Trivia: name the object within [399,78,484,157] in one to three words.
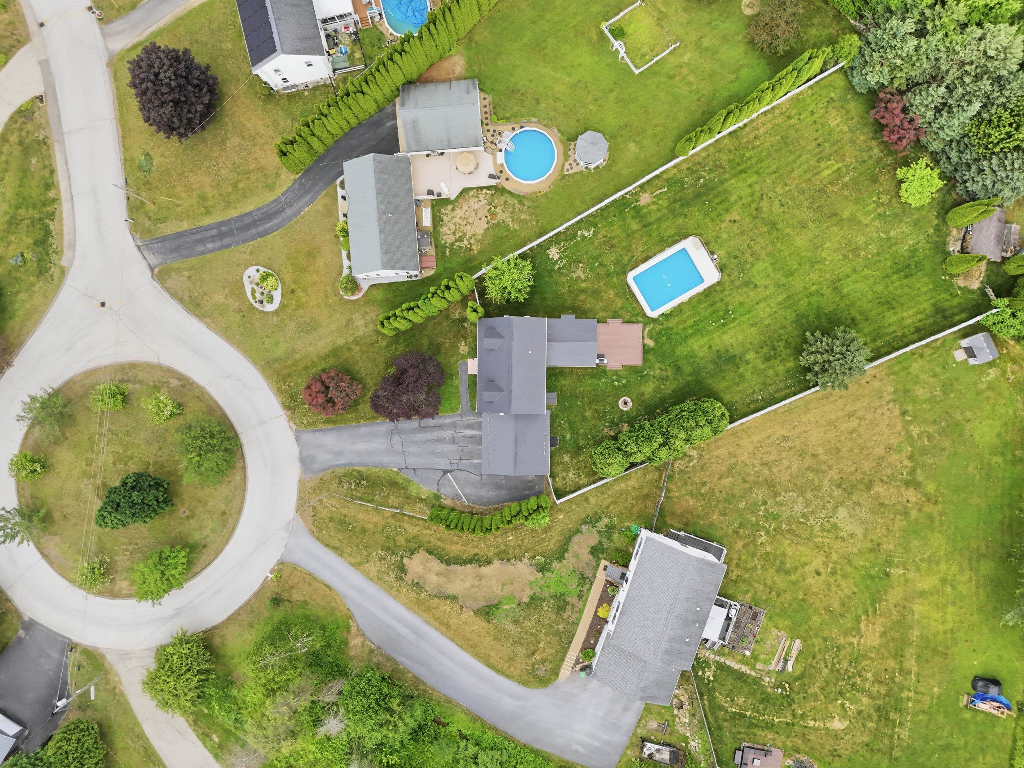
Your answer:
building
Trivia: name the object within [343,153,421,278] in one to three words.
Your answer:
house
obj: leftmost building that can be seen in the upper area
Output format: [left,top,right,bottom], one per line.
[237,0,333,92]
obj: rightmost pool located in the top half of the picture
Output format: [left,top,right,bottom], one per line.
[626,236,720,318]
